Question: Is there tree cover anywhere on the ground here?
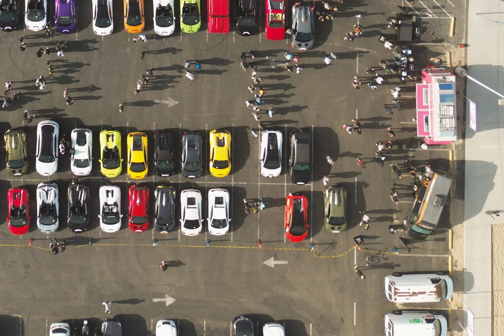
No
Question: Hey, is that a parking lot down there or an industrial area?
parking lot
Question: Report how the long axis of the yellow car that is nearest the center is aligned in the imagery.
from top to bottom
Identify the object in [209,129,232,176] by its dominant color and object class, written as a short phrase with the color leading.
yellow car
